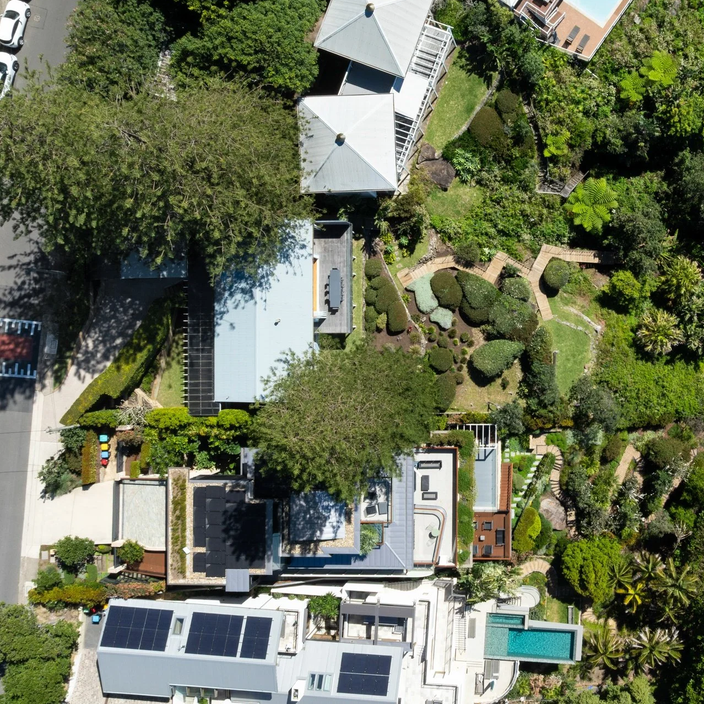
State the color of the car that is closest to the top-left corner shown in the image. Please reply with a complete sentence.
From above, the car that is closest to the top-left corner appears white.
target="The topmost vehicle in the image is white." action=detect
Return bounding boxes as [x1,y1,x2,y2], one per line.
[0,0,34,48]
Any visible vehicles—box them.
[0,0,34,48]
[0,52,21,91]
